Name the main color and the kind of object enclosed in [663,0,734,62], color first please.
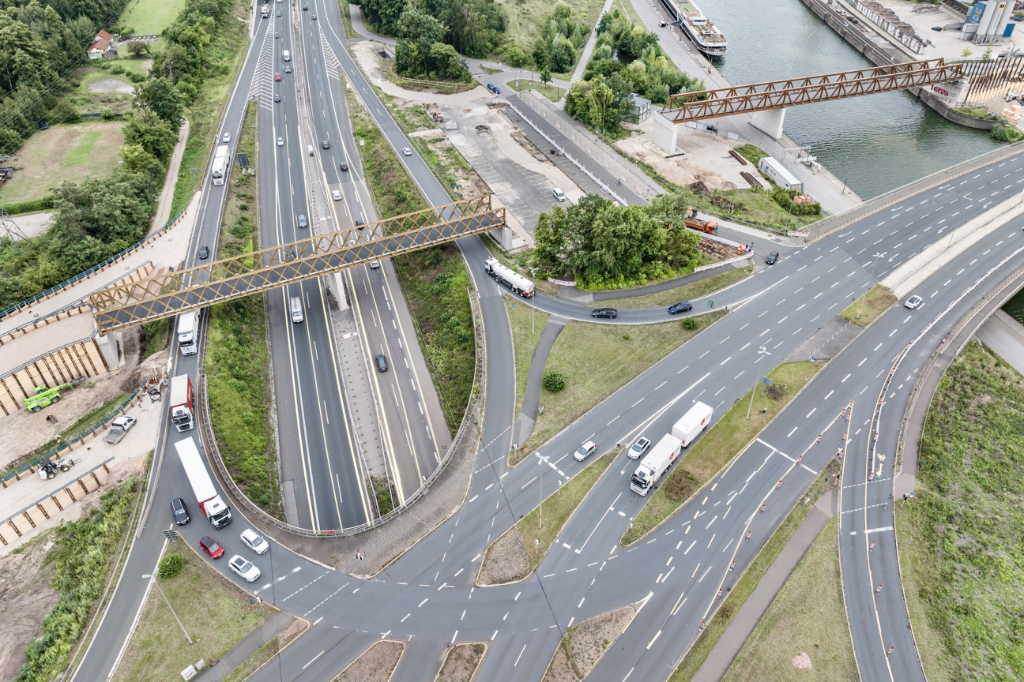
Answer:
white ship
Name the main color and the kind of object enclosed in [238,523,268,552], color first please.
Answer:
white car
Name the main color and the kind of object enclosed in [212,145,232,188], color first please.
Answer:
white vehicle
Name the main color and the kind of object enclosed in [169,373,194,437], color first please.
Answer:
white truck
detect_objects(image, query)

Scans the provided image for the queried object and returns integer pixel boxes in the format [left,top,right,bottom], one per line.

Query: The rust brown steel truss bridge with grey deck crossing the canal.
[659,53,969,125]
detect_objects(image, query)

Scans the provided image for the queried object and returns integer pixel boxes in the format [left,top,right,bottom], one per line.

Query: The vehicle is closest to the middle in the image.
[481,260,538,303]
